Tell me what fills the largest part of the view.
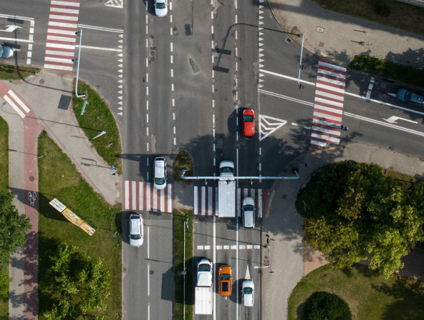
paved ground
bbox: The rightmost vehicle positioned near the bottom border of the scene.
[240,277,255,307]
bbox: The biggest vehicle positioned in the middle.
[216,161,235,220]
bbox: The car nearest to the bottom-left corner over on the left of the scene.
[128,213,144,246]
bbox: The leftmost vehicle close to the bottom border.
[195,255,214,319]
